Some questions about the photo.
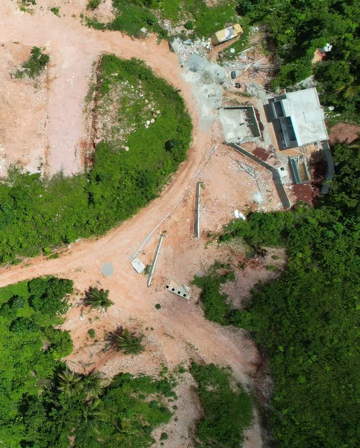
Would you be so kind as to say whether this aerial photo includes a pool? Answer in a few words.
No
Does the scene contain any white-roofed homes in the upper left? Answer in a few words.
No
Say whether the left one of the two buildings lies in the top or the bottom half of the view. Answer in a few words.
top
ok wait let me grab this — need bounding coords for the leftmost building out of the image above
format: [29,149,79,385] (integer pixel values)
[217,105,262,144]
